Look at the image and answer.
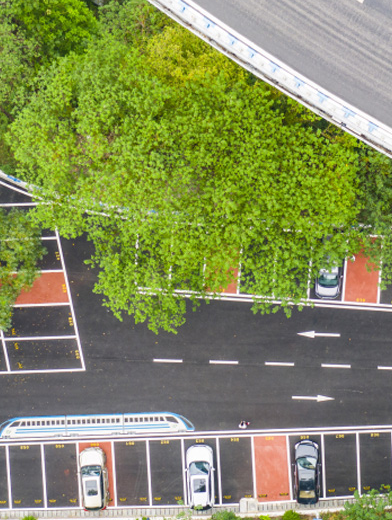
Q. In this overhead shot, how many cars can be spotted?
4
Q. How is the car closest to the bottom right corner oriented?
vertically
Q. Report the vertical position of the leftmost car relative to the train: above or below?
below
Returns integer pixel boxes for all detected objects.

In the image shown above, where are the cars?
[181,442,216,510]
[290,439,320,505]
[312,240,343,301]
[73,443,111,510]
